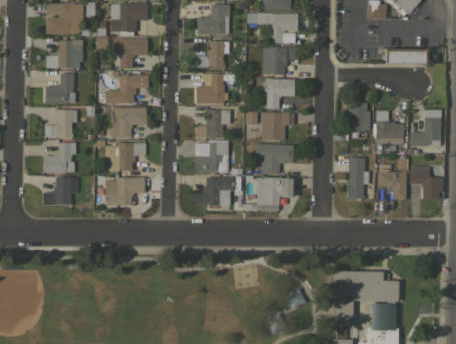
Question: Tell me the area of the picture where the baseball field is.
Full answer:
Look in the bottom left portion of the view to spot the baseball field.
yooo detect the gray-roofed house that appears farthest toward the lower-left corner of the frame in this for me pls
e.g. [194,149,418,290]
[43,177,80,205]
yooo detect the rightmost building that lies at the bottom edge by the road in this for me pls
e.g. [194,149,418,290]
[333,271,400,344]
